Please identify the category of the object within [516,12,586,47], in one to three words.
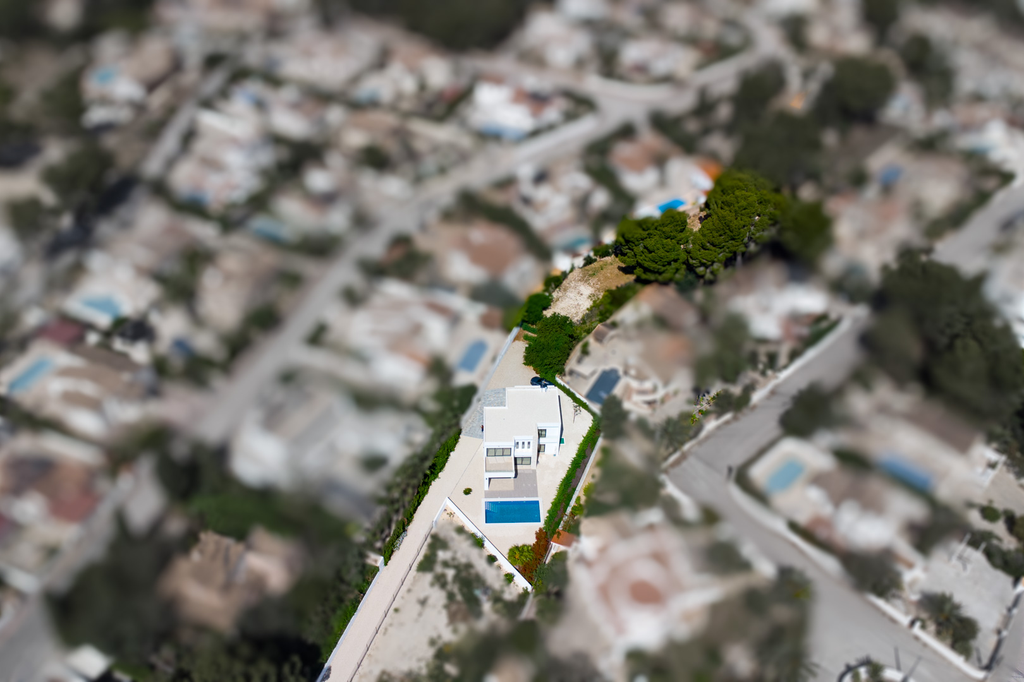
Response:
house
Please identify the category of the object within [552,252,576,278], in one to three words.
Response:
house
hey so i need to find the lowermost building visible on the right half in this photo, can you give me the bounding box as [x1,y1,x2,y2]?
[612,615,677,656]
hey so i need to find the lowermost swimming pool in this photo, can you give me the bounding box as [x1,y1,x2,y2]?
[482,498,543,525]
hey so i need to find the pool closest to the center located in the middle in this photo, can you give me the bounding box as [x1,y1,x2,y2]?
[458,338,490,374]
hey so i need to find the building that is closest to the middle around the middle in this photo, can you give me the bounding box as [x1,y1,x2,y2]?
[471,307,512,341]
